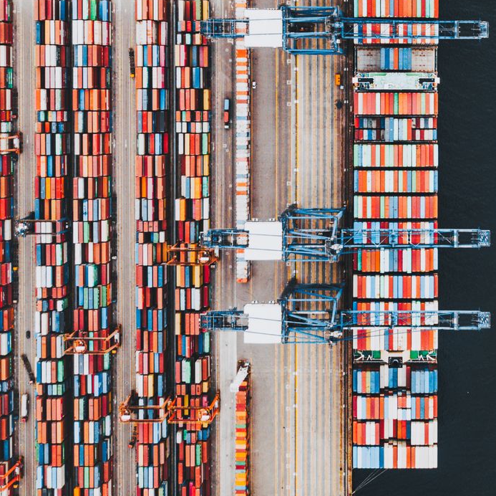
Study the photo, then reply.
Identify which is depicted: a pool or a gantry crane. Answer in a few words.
gantry crane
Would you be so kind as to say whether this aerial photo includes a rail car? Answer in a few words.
No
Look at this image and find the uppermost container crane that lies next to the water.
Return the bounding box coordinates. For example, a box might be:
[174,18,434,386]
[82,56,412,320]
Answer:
[204,3,490,60]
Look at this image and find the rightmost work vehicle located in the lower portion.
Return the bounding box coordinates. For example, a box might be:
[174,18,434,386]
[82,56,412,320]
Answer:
[231,361,253,391]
